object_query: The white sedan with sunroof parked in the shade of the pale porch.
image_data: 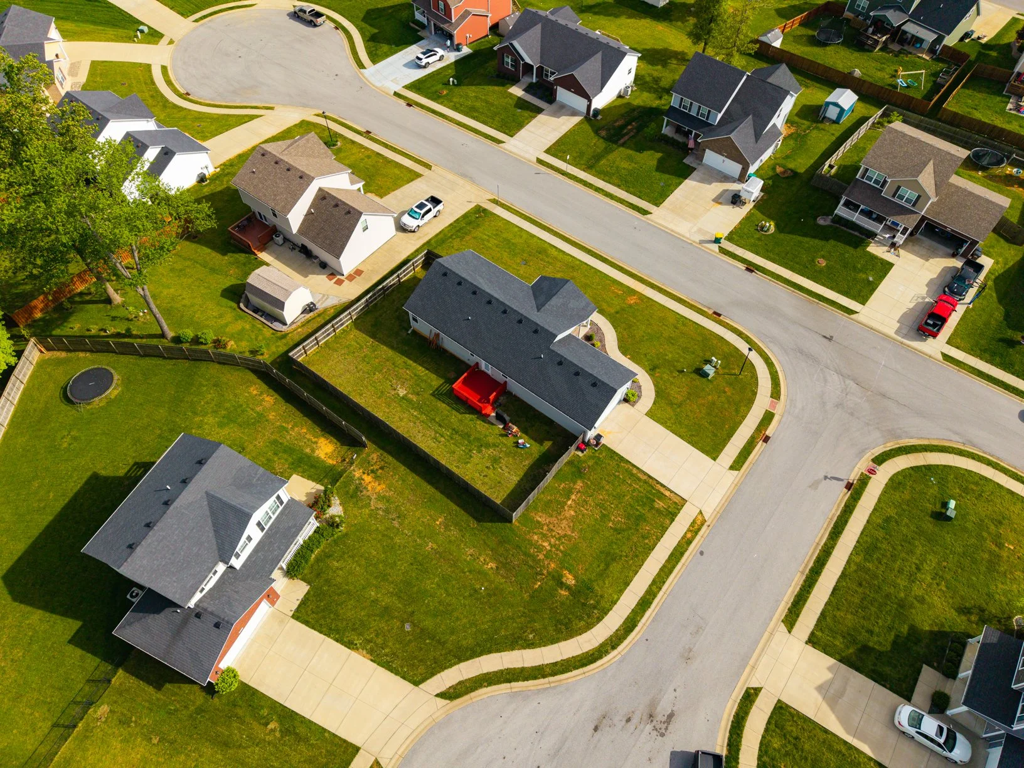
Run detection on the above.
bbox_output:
[899,704,976,768]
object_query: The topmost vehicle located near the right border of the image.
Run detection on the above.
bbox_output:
[949,253,988,295]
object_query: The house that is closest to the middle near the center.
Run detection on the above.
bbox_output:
[403,251,645,443]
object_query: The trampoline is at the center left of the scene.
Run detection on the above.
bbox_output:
[67,367,121,408]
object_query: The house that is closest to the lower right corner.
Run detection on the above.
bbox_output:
[945,624,1024,768]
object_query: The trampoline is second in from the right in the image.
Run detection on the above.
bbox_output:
[813,20,849,51]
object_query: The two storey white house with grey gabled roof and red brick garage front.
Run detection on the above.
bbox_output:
[81,434,320,687]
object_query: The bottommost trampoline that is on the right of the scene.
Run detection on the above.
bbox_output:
[968,146,1010,175]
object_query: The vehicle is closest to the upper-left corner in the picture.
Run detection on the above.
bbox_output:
[292,5,326,25]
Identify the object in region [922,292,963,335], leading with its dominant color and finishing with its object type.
red truck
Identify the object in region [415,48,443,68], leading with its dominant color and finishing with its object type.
white car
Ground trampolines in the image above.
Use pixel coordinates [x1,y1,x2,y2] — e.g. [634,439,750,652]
[968,146,1010,175]
[813,20,849,51]
[67,367,121,408]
